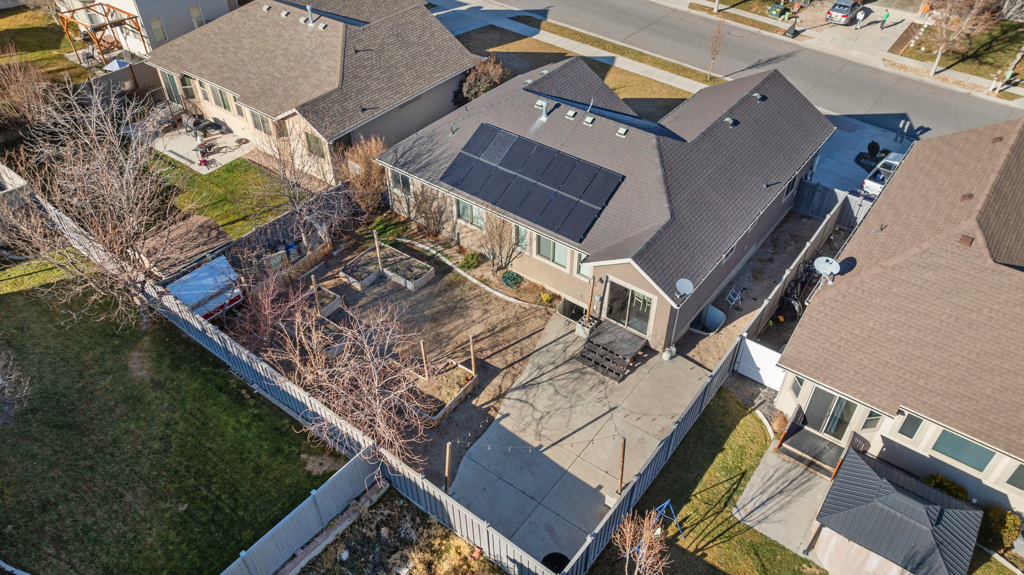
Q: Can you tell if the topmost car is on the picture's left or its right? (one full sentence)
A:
It is on the right.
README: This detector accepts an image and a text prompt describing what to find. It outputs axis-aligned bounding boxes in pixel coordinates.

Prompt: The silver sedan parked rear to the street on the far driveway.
[828,0,864,21]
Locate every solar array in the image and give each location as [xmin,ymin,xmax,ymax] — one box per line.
[438,120,622,239]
